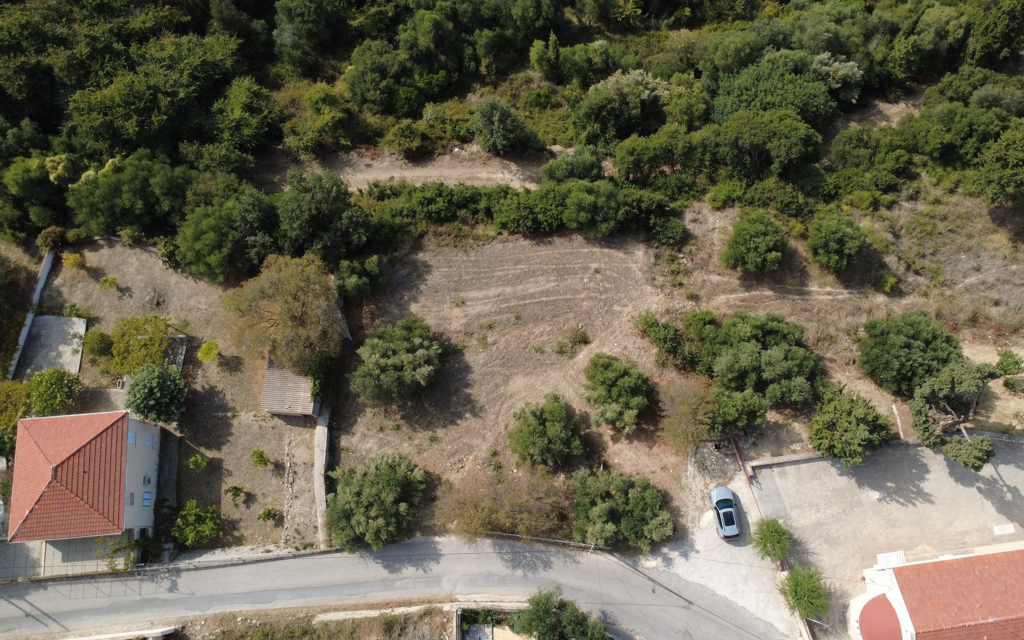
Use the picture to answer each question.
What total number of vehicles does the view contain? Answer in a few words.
one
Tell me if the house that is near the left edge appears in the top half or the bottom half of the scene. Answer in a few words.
bottom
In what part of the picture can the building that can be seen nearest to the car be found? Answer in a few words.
bottom right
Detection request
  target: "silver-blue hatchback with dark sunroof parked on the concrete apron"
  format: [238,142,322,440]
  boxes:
[710,487,740,541]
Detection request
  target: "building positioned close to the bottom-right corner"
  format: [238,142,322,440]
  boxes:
[843,536,1024,640]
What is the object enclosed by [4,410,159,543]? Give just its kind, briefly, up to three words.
house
